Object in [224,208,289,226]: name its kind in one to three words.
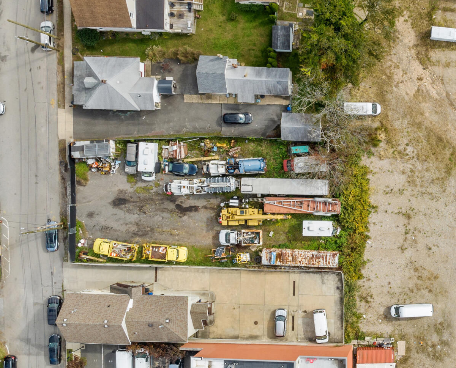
crane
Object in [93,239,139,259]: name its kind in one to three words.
vehicle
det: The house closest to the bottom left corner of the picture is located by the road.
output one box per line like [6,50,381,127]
[58,282,216,345]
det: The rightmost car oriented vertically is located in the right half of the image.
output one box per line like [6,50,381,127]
[314,308,329,342]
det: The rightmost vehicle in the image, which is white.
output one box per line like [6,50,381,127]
[430,27,456,42]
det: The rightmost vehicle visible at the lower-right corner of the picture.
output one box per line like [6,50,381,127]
[391,302,432,319]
